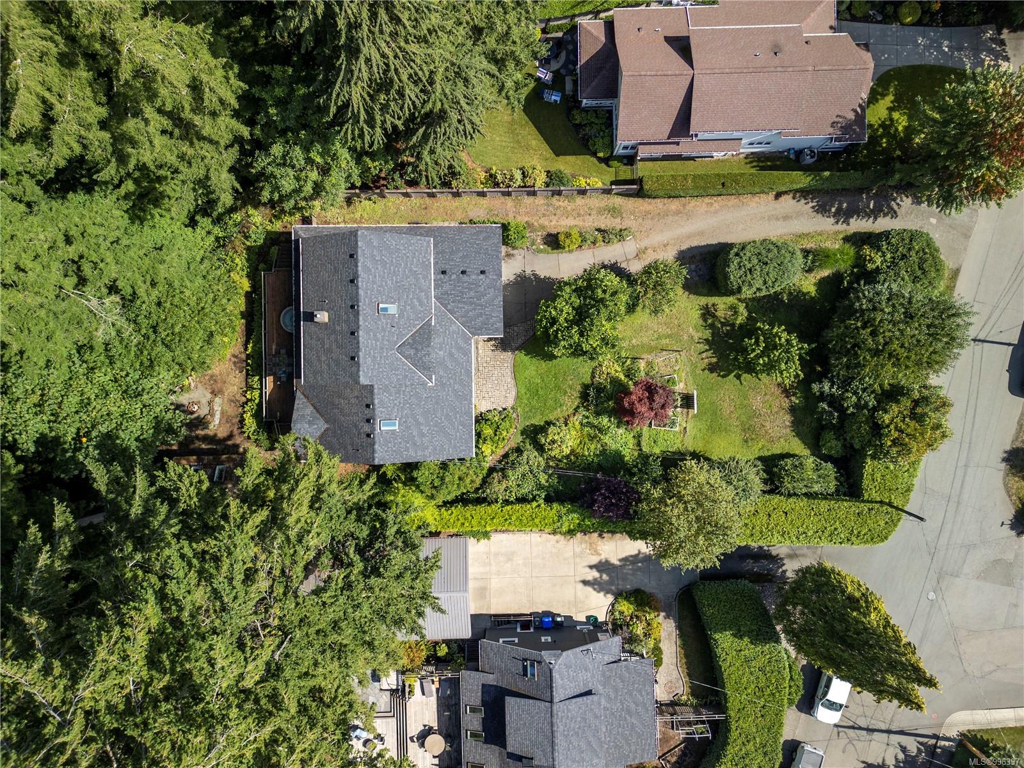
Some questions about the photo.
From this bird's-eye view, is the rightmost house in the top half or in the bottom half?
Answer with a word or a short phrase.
top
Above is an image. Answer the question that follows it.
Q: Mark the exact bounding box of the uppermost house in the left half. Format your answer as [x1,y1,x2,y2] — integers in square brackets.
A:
[287,224,504,470]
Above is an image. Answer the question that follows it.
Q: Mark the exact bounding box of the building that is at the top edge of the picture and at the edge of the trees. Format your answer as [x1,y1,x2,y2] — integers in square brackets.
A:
[577,0,874,157]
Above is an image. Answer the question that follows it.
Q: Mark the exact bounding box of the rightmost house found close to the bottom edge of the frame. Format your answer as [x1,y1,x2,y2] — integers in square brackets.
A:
[459,617,659,768]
